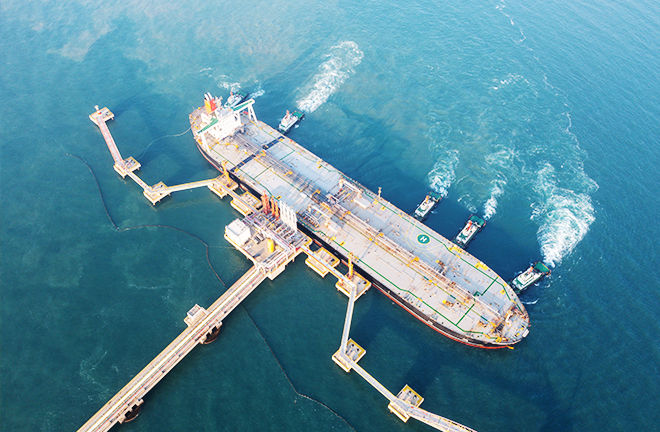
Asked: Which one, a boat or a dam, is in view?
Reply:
boat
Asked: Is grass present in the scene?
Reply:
No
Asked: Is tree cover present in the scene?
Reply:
No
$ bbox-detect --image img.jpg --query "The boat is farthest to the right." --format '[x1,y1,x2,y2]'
[515,261,557,292]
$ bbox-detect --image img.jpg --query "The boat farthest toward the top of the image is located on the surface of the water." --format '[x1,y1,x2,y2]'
[227,86,253,107]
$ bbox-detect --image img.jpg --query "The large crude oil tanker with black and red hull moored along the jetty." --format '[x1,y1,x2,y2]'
[186,90,532,346]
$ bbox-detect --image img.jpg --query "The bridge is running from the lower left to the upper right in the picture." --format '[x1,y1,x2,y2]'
[68,265,269,432]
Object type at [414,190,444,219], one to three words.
boat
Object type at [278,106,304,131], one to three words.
boat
